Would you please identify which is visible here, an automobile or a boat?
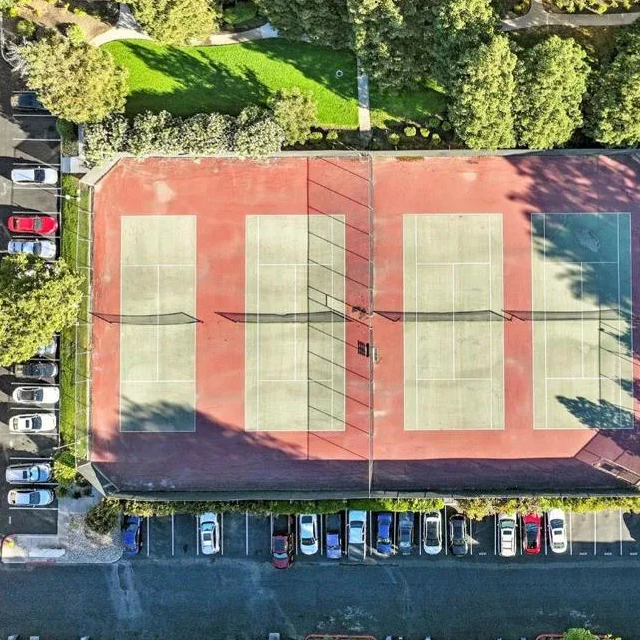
automobile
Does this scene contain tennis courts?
Yes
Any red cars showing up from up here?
Yes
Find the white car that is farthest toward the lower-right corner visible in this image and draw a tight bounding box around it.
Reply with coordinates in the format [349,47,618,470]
[547,508,567,554]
